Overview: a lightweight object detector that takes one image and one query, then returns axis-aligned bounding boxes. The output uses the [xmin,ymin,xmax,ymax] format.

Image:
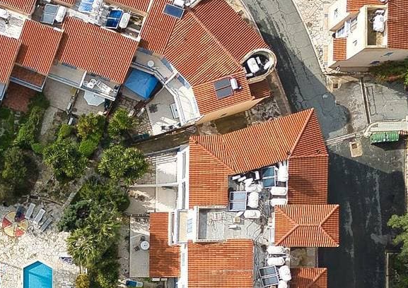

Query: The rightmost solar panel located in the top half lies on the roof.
[211,76,232,100]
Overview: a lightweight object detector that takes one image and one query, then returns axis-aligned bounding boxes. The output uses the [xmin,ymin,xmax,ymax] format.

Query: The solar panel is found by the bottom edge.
[255,266,278,287]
